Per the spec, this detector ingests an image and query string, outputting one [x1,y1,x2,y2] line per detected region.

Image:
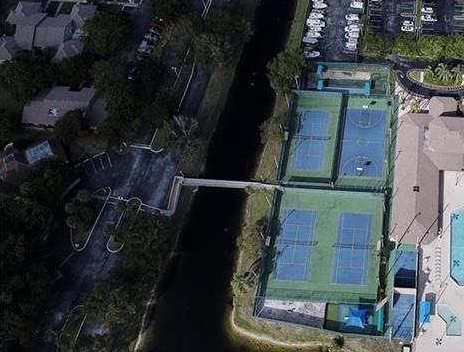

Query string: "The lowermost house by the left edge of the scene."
[0,158,28,191]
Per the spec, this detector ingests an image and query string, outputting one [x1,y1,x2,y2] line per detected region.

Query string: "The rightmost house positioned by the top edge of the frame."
[31,4,97,67]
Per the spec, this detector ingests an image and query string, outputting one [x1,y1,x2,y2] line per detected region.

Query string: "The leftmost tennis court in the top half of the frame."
[282,94,344,181]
